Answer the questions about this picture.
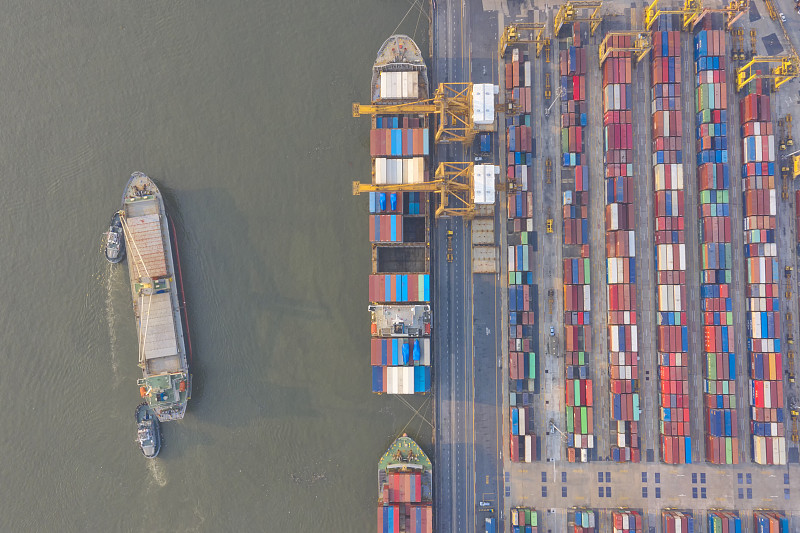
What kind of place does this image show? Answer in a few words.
port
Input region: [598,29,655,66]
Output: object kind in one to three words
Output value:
container crane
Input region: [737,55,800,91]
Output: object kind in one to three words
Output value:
container crane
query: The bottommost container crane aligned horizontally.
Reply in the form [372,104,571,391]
[352,158,538,228]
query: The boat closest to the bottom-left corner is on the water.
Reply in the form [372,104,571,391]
[133,402,162,459]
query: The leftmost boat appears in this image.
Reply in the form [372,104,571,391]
[102,212,127,263]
